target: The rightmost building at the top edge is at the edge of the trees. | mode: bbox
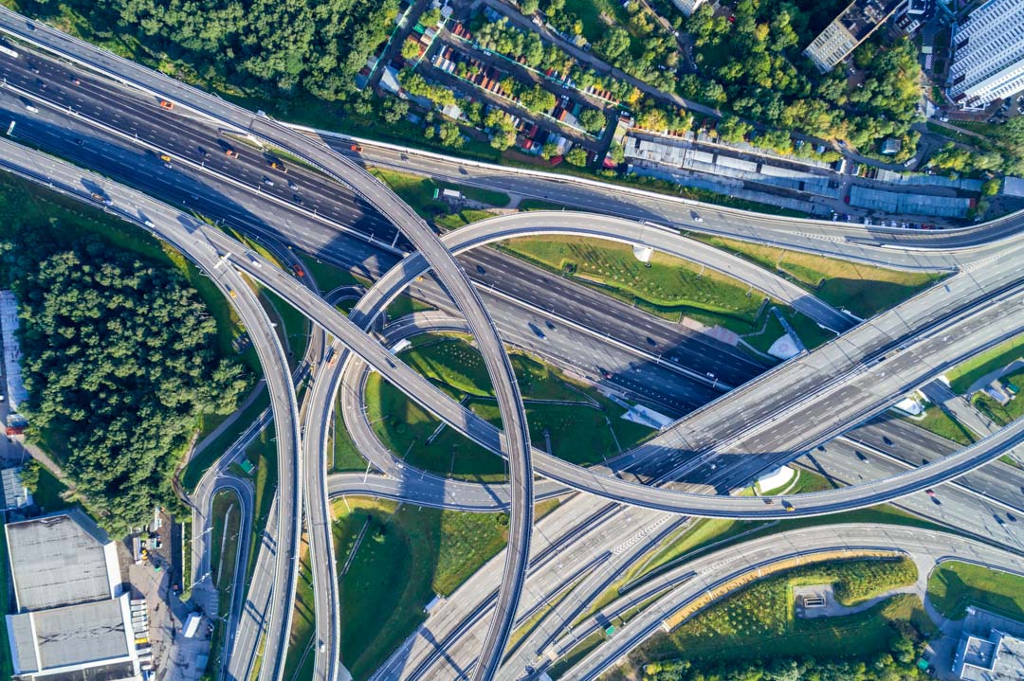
[942,0,1024,109]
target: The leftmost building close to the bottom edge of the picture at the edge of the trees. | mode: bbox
[0,511,143,681]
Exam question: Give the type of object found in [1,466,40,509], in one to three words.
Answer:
building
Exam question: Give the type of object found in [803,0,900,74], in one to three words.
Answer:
building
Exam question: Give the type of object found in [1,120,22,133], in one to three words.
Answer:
vehicle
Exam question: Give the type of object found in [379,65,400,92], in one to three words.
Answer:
shed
